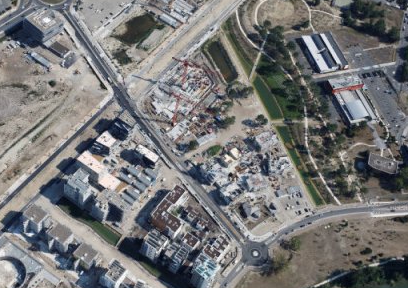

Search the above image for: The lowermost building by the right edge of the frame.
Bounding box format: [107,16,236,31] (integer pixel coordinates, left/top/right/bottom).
[367,153,398,178]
